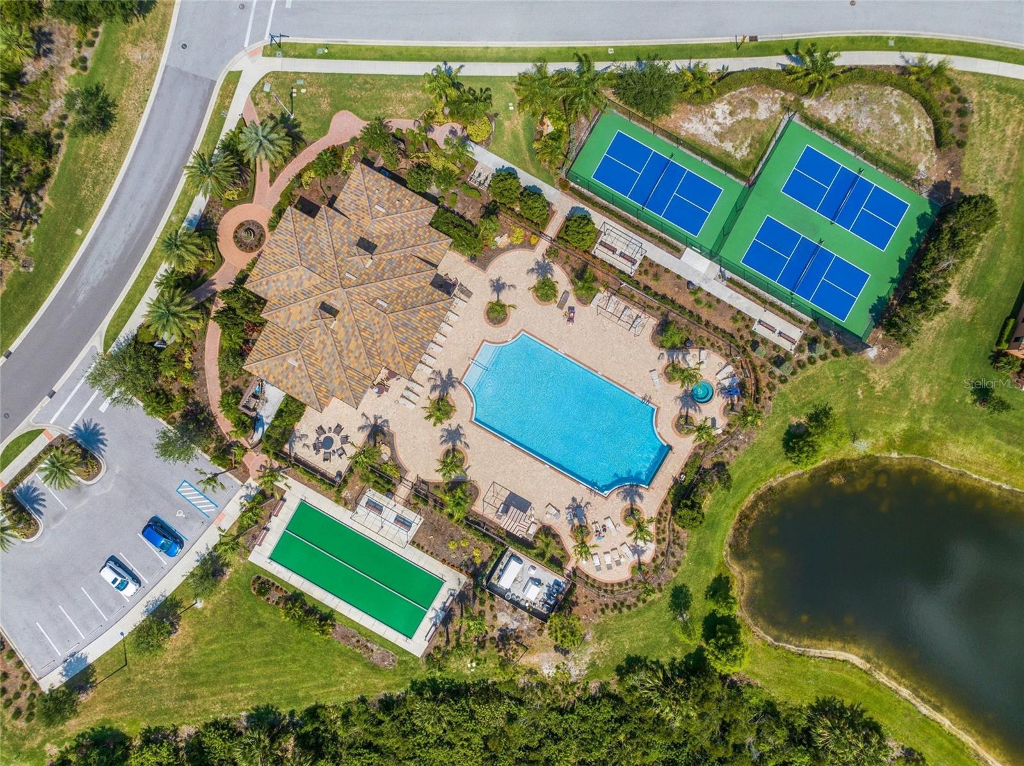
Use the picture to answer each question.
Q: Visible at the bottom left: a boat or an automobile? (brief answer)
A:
automobile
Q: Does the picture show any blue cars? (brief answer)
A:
Yes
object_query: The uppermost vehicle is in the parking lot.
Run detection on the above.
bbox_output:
[142,518,183,556]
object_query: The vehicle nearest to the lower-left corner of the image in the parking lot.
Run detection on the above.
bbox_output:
[98,558,140,596]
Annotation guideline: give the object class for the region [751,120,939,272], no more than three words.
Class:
sports court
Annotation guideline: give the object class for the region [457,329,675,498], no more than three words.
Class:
swimming pool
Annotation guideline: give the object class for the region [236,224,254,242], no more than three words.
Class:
fountain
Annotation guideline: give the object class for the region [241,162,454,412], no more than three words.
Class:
building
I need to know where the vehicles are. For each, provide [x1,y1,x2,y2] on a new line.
[98,558,140,596]
[142,518,183,556]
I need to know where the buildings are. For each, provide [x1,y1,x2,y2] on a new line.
[1008,320,1024,368]
[241,162,454,412]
